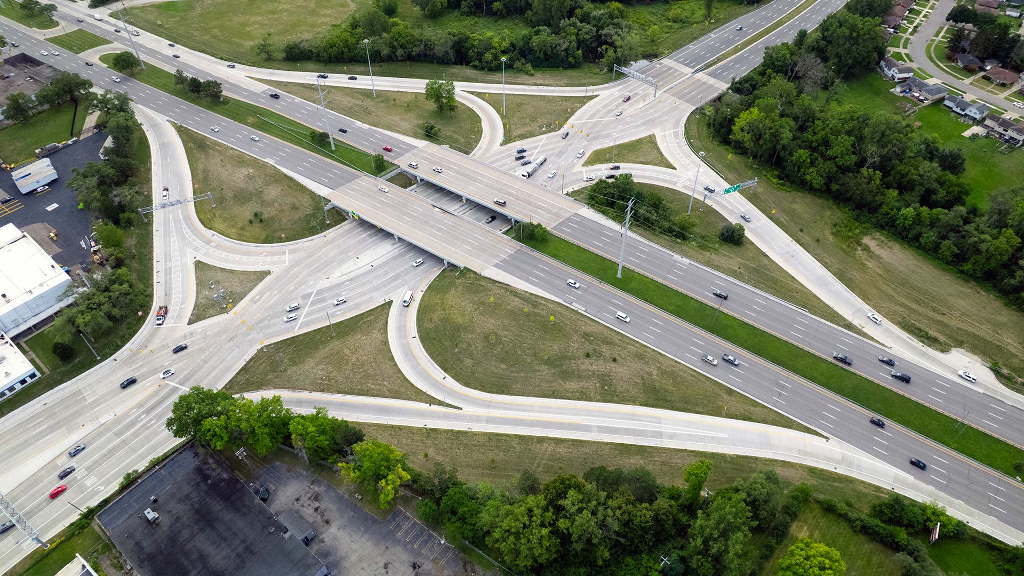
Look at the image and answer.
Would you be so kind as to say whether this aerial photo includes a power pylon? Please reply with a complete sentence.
Yes, you can see a power pylon in this photo.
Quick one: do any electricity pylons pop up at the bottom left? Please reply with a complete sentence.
No, I see no electricity pylon at the bottom left.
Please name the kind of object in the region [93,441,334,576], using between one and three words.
warehouse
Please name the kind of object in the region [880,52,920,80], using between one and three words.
house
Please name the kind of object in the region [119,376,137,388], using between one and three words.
vehicle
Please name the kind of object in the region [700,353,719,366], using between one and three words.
vehicle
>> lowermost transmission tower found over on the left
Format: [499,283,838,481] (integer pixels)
[311,66,333,142]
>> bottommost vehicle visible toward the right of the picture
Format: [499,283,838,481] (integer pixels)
[908,457,927,470]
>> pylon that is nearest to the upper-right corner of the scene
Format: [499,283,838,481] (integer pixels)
[618,183,637,269]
